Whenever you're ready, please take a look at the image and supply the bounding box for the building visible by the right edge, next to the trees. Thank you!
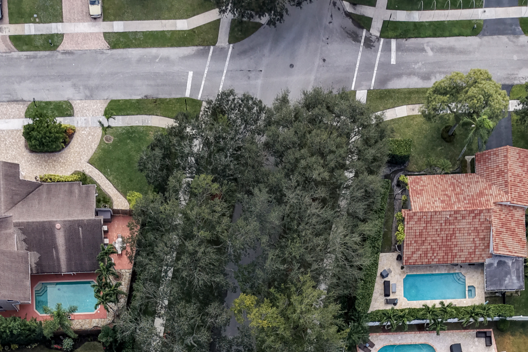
[398,145,528,298]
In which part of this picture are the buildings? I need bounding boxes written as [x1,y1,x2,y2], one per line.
[398,145,528,298]
[0,160,104,311]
